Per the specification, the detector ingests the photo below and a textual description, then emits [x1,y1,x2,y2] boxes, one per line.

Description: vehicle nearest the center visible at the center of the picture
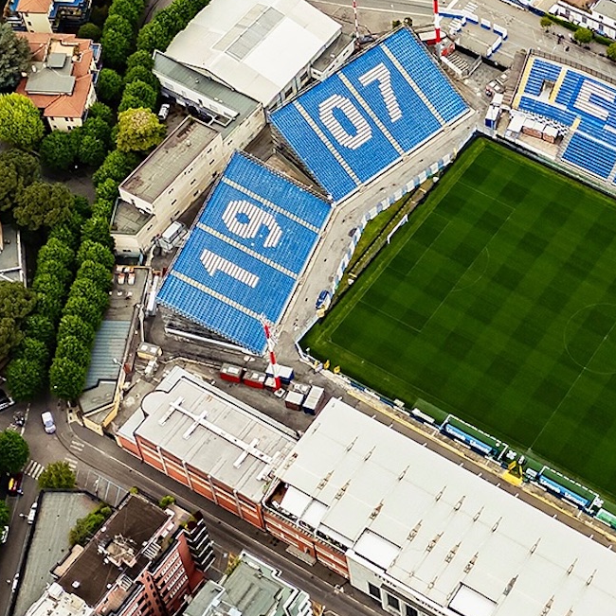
[315,286,330,306]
